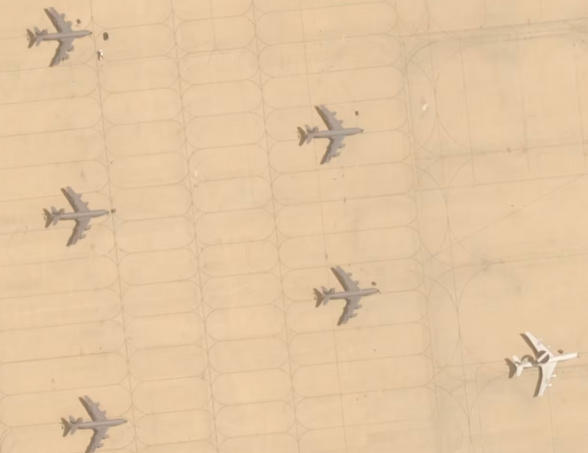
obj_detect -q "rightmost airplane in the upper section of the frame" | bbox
[305,104,363,164]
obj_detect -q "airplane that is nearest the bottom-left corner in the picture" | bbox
[68,395,127,453]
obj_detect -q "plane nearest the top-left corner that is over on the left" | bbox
[34,7,92,66]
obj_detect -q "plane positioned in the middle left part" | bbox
[50,187,109,245]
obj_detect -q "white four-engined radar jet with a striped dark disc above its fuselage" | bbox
[513,331,579,396]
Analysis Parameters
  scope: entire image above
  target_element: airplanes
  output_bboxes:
[50,187,109,245]
[305,104,363,164]
[68,395,127,453]
[513,331,579,396]
[34,7,92,66]
[321,265,379,324]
